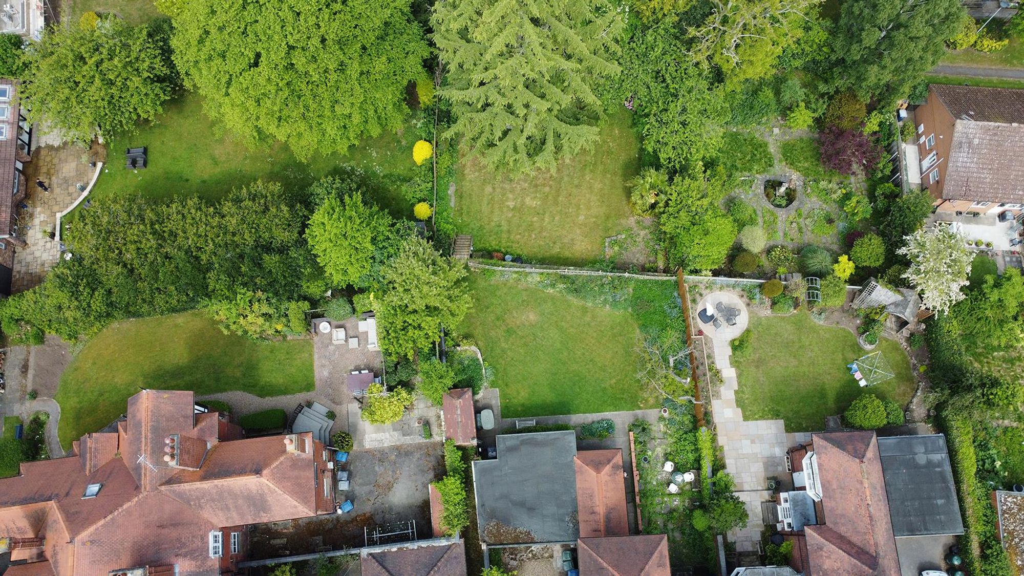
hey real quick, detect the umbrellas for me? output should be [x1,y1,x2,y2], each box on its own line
[699,304,723,324]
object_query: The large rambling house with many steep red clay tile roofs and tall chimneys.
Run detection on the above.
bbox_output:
[0,390,333,576]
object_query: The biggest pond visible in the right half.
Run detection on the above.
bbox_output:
[755,170,806,217]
